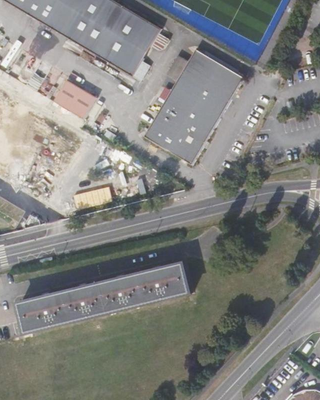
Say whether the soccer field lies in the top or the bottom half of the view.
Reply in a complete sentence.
Seen from above, the soccer field lies in the top half of the view.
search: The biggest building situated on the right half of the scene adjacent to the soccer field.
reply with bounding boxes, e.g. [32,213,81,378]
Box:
[142,49,246,168]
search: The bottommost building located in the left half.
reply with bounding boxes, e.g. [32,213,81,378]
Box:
[14,260,191,334]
